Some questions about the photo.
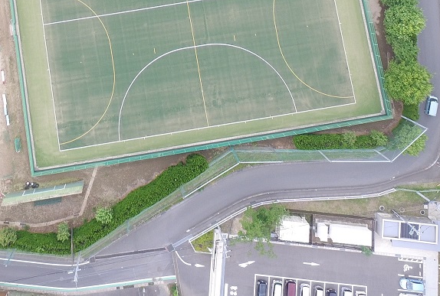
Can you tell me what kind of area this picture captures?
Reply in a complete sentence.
It's a sports ground.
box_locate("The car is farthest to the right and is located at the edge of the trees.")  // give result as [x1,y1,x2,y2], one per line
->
[425,96,440,116]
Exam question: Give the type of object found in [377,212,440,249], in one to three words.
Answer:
building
